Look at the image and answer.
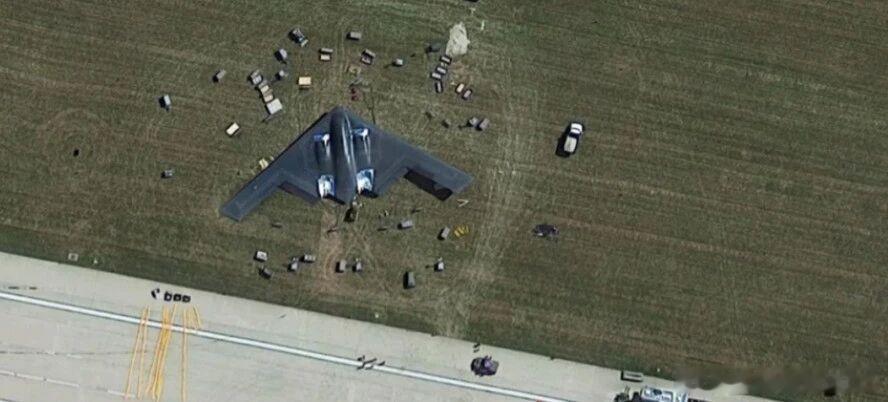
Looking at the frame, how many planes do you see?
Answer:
1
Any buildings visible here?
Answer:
No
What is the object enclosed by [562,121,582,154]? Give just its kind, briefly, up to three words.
vehicle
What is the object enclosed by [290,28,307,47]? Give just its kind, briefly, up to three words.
work vehicle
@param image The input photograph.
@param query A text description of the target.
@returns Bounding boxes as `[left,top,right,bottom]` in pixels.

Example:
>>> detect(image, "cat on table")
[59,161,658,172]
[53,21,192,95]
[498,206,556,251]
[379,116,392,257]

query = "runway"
[0,253,781,402]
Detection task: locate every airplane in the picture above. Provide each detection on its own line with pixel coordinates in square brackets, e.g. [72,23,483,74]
[221,108,474,219]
